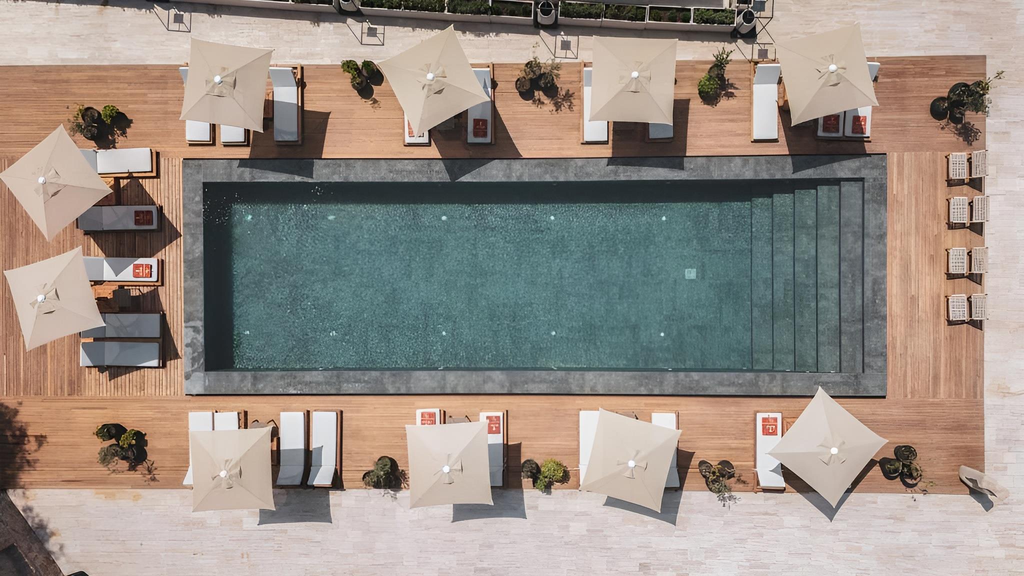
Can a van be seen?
No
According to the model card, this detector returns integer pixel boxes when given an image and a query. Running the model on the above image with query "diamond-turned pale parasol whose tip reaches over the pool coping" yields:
[766,386,889,508]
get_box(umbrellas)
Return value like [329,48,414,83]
[588,35,679,125]
[773,22,879,127]
[2,246,107,352]
[766,386,889,508]
[378,25,492,142]
[187,425,277,515]
[578,407,684,513]
[0,122,114,242]
[405,420,494,509]
[180,36,273,133]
